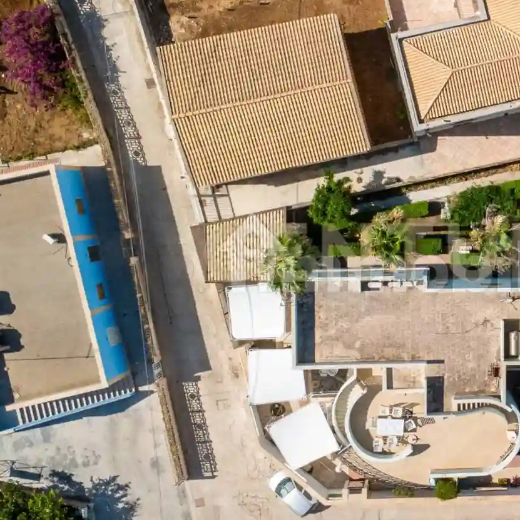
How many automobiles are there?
1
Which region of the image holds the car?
bottom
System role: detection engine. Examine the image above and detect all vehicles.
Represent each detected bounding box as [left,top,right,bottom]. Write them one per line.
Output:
[268,469,320,518]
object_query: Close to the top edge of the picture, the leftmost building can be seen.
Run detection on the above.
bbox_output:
[158,14,373,187]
